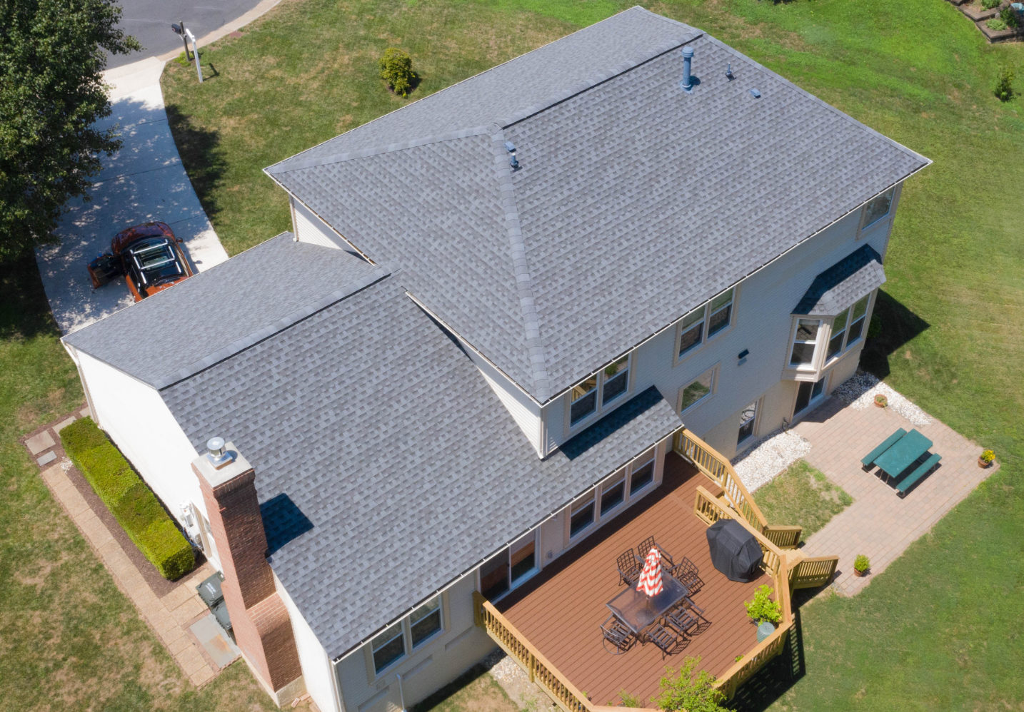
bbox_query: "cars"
[81,224,195,304]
